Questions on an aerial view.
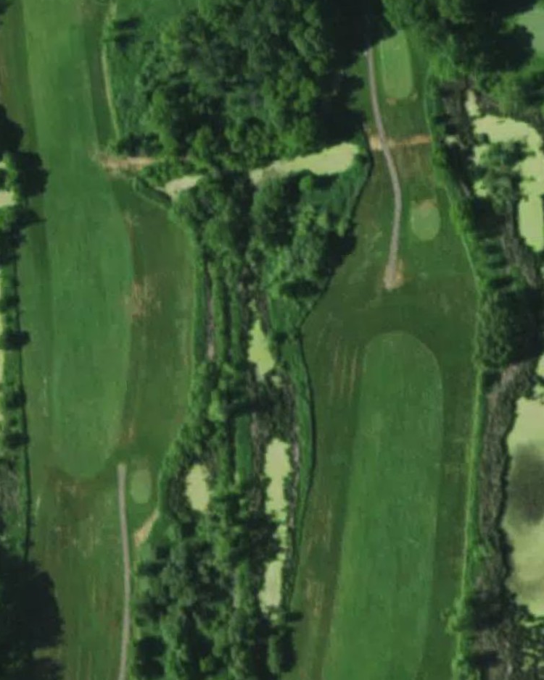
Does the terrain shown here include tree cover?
Yes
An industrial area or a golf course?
golf course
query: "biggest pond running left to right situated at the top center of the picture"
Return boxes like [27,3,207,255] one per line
[246,143,358,187]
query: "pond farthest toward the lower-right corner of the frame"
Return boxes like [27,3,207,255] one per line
[504,388,544,619]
